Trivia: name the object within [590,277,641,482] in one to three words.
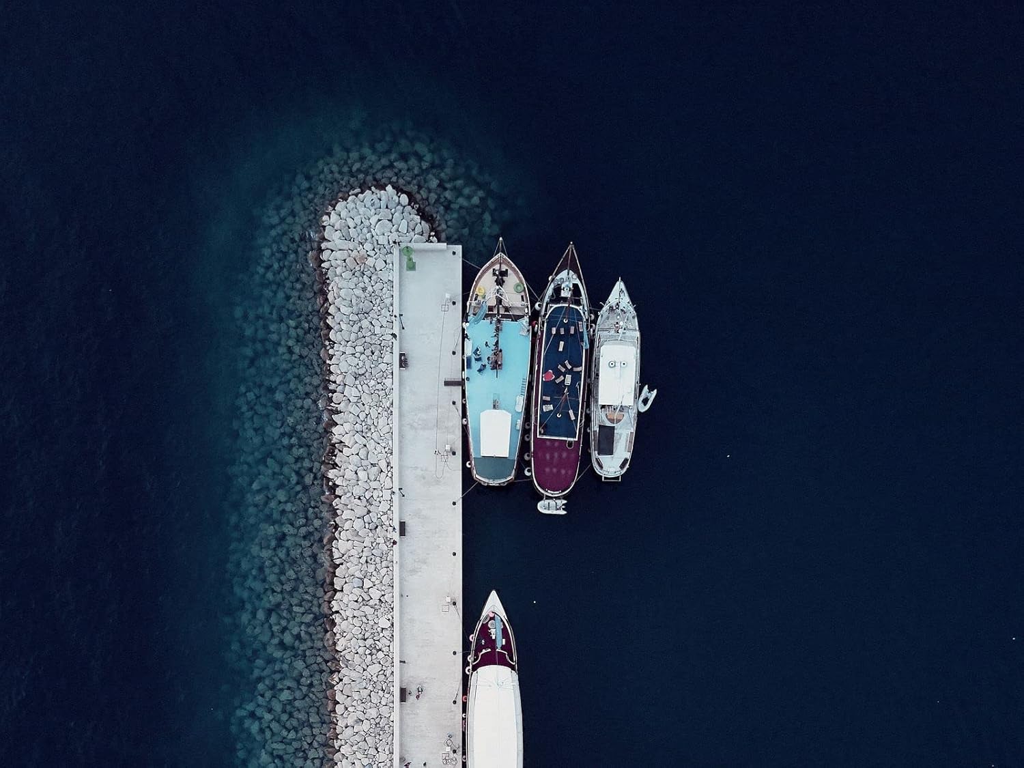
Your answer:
boat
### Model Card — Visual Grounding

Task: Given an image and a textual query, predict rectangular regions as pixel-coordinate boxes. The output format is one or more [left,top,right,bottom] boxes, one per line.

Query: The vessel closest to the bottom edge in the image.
[466,590,524,768]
